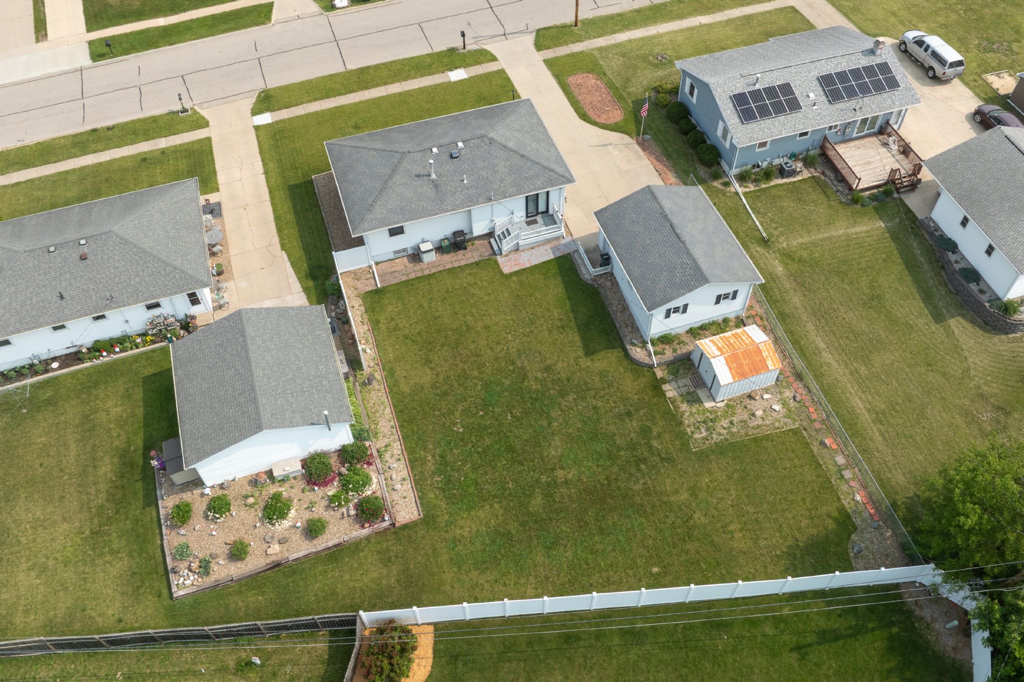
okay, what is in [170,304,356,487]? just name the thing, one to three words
building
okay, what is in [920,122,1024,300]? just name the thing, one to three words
house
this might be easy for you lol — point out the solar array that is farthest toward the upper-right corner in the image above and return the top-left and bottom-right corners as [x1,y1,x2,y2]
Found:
[819,61,900,103]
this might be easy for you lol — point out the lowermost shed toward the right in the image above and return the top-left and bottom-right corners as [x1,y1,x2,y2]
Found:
[694,326,782,402]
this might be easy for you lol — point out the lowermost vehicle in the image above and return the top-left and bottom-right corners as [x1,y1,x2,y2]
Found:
[972,97,1024,127]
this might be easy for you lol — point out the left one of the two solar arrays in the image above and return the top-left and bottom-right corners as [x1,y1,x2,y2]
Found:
[731,82,802,123]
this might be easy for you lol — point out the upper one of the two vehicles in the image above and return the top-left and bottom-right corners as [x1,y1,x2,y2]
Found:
[898,33,964,83]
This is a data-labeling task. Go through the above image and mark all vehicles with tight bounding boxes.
[972,97,1024,127]
[898,33,964,83]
